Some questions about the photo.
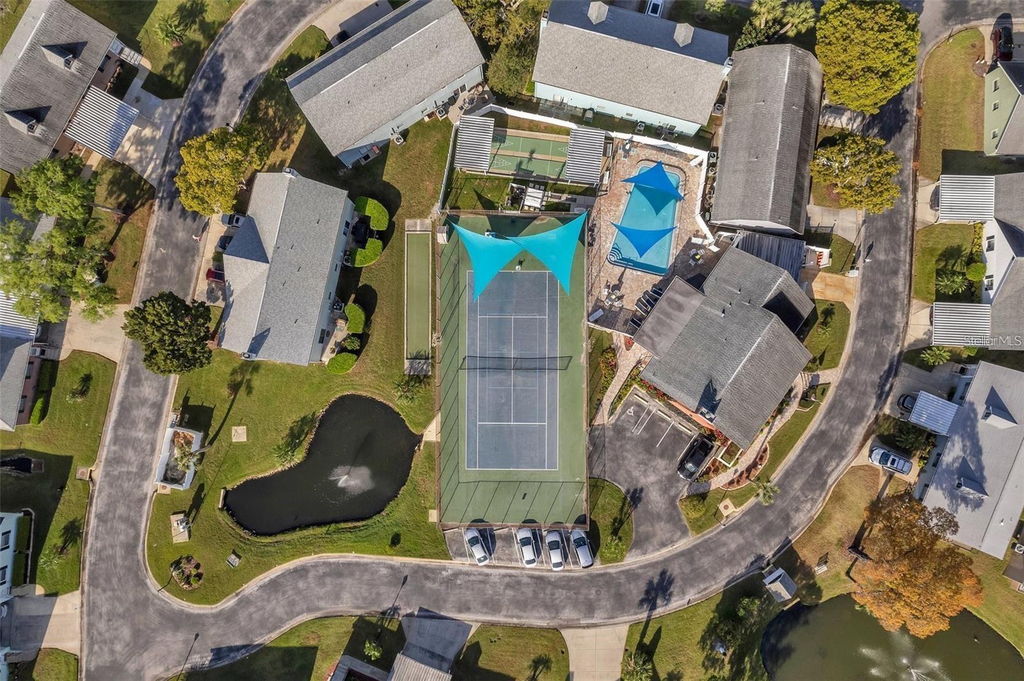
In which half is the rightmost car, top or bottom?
top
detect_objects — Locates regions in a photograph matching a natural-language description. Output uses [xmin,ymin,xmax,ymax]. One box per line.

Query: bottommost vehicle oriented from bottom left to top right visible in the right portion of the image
[677,432,717,482]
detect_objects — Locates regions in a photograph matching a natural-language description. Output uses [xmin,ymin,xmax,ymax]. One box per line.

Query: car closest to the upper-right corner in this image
[991,25,1016,62]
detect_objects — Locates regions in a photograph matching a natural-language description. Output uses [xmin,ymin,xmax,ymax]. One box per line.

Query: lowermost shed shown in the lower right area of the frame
[769,574,800,606]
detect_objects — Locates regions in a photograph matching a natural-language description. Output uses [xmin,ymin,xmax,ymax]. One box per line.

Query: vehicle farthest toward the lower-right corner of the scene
[867,448,914,474]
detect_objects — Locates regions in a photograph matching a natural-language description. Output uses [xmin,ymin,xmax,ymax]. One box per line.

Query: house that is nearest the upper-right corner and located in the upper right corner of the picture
[979,61,1024,159]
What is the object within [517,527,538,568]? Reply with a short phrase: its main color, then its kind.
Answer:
white car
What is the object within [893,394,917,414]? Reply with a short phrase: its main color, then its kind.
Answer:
black car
